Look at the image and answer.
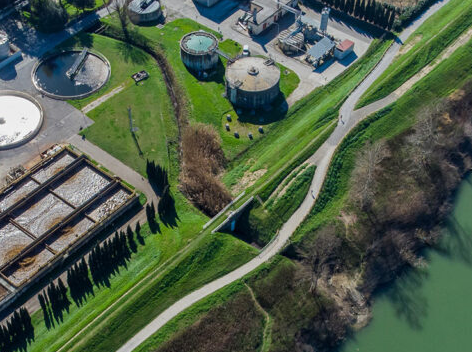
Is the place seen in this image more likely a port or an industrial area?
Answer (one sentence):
This image shows an industrial area.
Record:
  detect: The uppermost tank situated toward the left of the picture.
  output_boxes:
[127,0,162,29]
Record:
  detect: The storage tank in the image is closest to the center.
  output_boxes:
[224,55,281,114]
